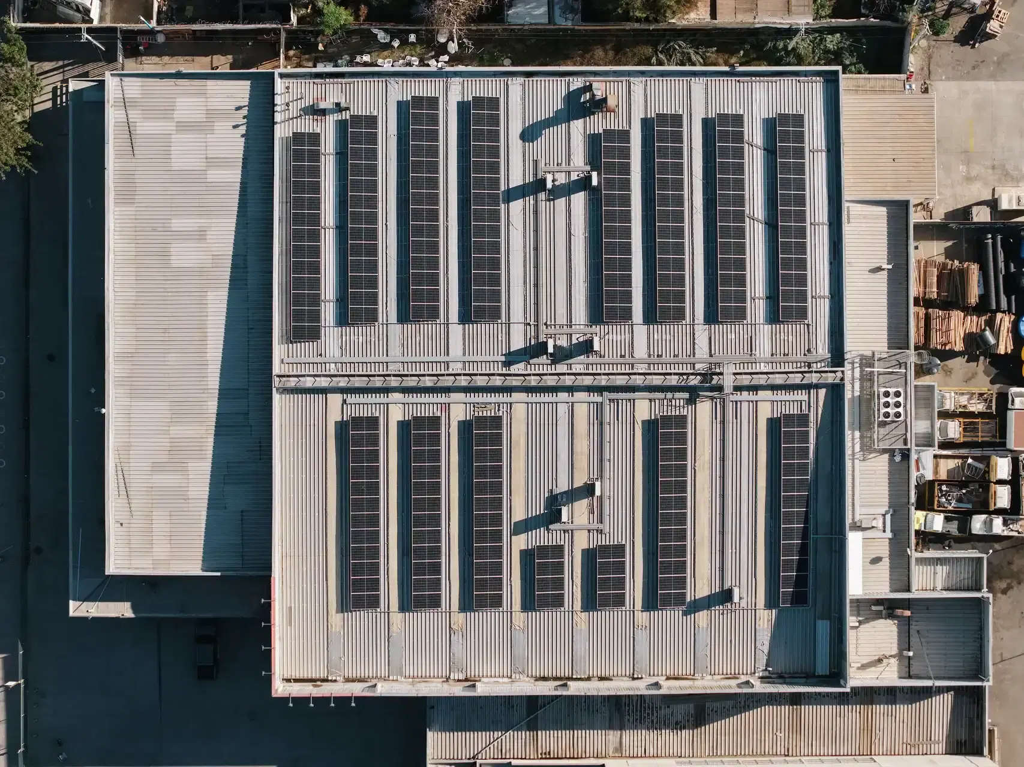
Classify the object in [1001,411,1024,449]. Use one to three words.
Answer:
truck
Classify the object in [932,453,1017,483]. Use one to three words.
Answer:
truck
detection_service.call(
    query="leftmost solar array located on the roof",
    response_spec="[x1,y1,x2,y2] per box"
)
[291,131,321,341]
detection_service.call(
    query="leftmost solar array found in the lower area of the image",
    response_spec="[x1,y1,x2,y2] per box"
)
[350,414,380,610]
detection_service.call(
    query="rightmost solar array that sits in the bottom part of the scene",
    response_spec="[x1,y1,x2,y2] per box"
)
[781,413,810,606]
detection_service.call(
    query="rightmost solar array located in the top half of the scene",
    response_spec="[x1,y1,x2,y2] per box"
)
[777,111,808,322]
